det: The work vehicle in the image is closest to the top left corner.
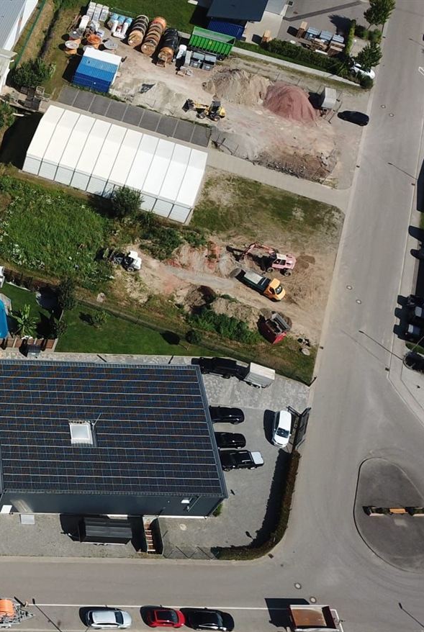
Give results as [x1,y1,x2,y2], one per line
[186,98,223,120]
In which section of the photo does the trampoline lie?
left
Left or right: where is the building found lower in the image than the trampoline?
left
